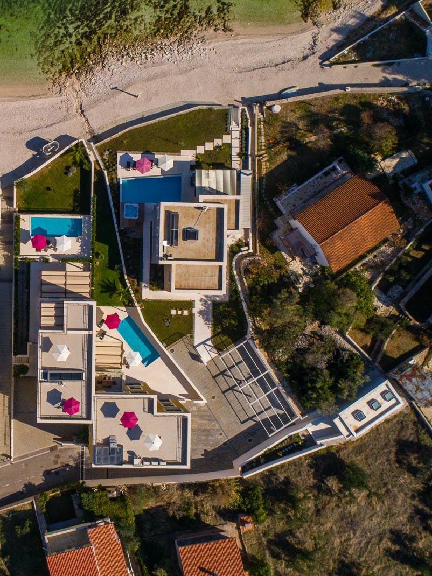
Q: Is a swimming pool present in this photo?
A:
Yes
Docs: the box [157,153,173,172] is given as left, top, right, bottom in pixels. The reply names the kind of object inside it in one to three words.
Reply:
umbrella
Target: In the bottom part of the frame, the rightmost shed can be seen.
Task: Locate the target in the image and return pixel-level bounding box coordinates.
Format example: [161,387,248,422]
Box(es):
[395,366,432,407]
